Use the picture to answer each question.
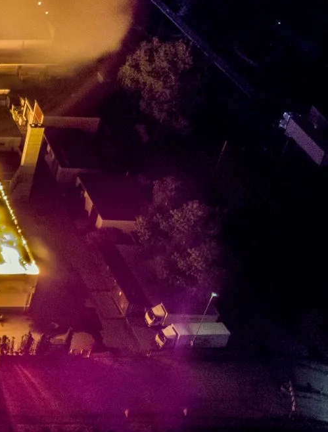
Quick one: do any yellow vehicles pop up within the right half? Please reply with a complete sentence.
No, within the right half there is no yellow vehicle.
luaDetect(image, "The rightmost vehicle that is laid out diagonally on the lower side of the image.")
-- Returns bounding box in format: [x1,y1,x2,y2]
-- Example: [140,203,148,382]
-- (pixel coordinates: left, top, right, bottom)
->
[68,326,97,362]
